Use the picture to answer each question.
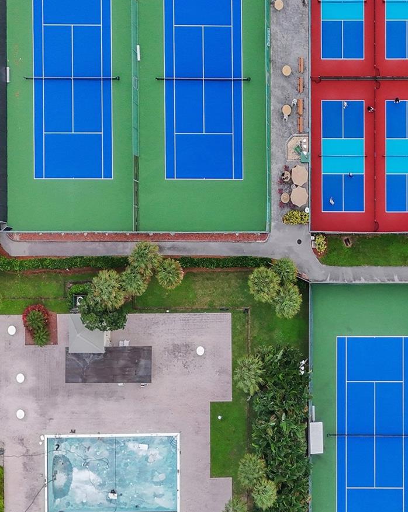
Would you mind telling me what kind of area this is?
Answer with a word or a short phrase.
sports ground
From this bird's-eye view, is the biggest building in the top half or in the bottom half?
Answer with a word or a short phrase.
bottom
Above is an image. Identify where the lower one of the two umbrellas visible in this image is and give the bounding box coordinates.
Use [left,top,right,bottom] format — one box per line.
[289,185,309,209]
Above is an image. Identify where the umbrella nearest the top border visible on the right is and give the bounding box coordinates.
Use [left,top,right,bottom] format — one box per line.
[290,164,309,187]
